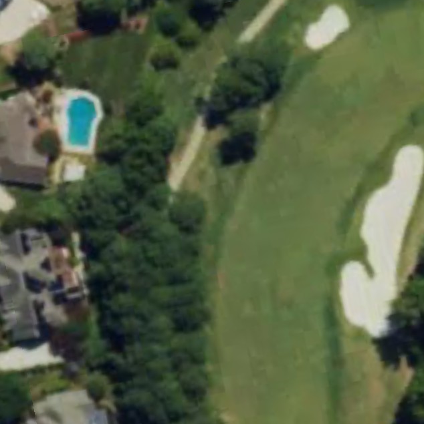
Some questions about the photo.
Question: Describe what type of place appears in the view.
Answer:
golf course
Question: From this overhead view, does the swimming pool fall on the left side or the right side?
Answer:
left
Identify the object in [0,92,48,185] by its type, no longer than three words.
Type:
house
